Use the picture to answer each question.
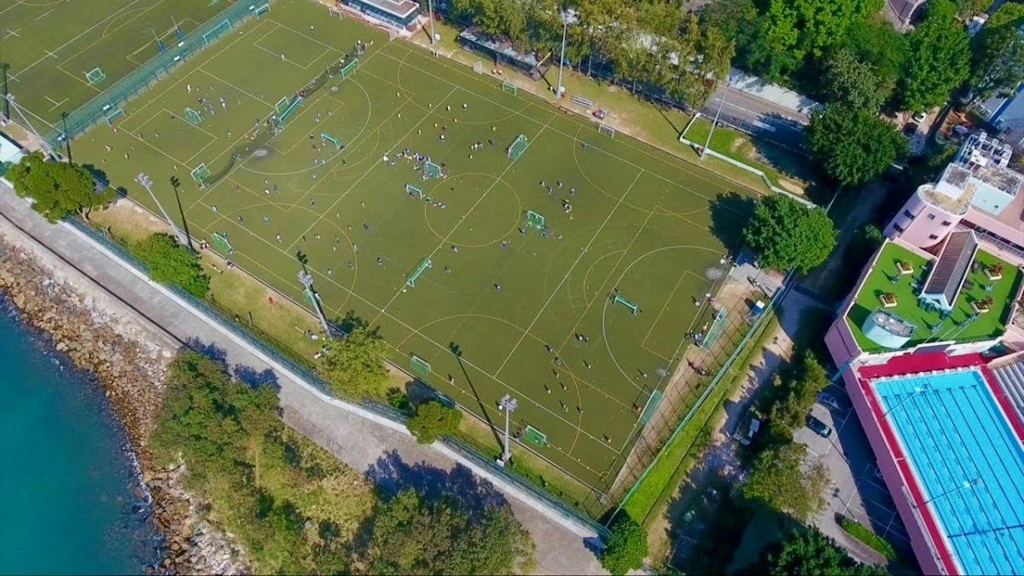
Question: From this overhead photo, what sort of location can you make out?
sports ground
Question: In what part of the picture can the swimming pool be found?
bottom right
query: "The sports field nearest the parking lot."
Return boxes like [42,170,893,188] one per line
[110,0,769,499]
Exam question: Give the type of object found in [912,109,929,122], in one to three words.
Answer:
vehicle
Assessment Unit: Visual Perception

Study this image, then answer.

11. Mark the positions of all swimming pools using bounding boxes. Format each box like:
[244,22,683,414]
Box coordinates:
[869,365,1024,576]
